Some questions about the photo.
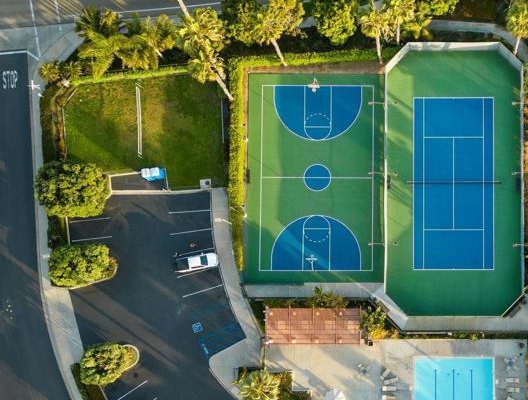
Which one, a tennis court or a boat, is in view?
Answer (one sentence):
I can see a tennis court in this picture.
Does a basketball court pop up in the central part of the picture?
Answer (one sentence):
Yes, looking in the central part of the picture, one can make out a basketball court.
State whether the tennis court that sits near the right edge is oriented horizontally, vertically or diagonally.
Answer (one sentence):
The tennis court that sits near the right edge is oriented vertically.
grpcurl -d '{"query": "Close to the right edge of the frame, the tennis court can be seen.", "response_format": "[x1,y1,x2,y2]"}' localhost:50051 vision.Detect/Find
[383,42,527,318]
